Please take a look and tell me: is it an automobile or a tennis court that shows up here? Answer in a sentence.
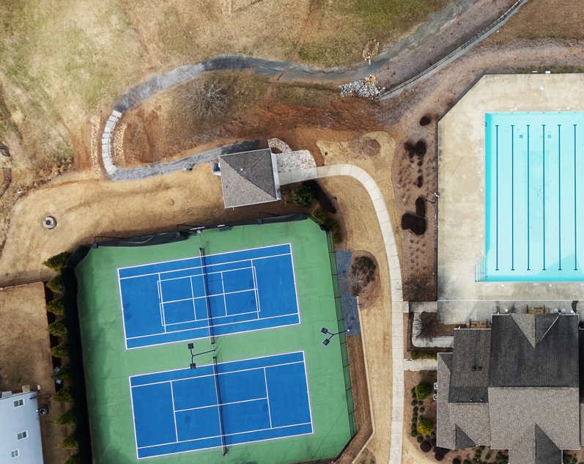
Looking from above, you can make out a tennis court.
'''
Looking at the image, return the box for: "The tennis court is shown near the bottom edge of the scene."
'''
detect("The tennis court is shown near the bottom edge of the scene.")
[129,352,313,458]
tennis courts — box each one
[129,352,313,458]
[118,243,300,349]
